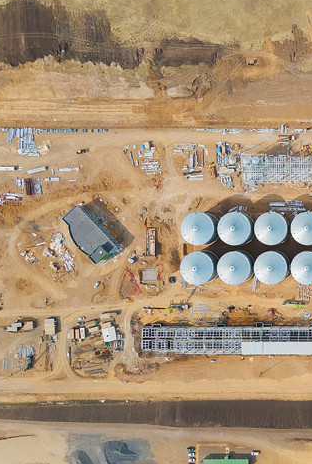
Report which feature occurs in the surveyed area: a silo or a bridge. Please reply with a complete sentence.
This aerial view contains a silo.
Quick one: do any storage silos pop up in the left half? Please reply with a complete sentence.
No, there's no storage silo to be seen in the left half.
